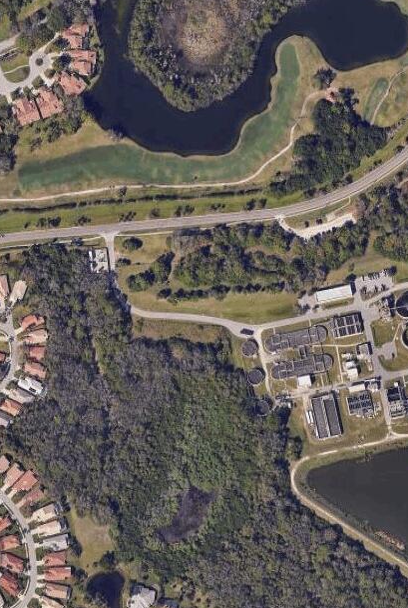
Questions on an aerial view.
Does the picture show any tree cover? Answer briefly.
Yes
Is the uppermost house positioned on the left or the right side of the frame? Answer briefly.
left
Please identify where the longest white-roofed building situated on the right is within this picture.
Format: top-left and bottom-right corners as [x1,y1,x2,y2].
[316,285,354,303]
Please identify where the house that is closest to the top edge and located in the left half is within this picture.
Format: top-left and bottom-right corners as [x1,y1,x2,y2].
[62,21,91,51]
